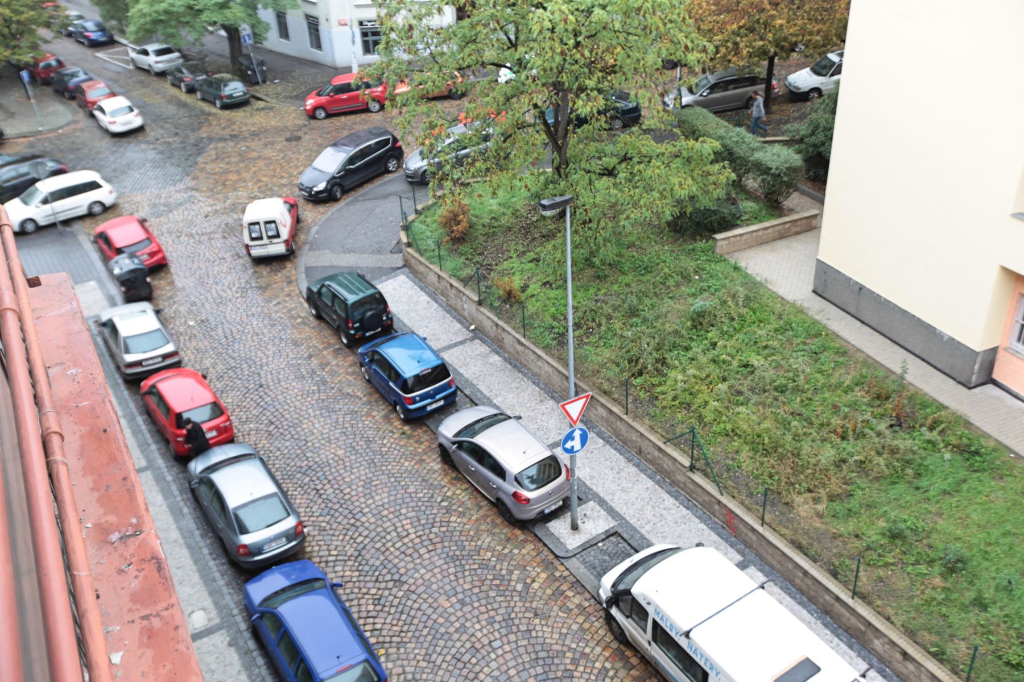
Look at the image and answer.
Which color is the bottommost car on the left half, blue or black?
blue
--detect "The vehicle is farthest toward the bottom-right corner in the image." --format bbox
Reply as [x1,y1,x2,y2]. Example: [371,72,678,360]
[602,546,868,682]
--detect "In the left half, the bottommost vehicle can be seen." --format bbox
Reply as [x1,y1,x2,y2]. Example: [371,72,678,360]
[250,560,392,682]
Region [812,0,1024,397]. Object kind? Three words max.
building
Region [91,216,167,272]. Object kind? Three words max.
car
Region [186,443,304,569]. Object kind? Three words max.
car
